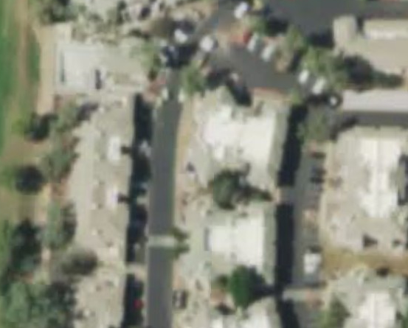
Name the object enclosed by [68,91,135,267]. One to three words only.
building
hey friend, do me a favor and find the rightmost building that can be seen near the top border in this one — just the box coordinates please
[335,16,408,74]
